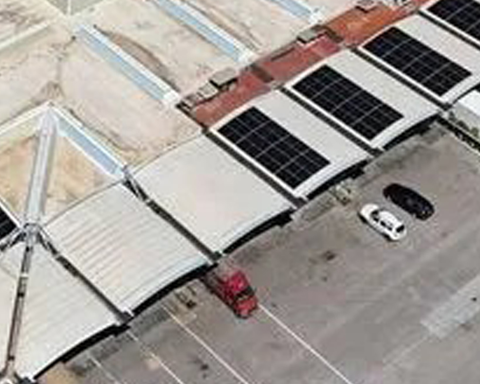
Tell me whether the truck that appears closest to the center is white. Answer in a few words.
No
